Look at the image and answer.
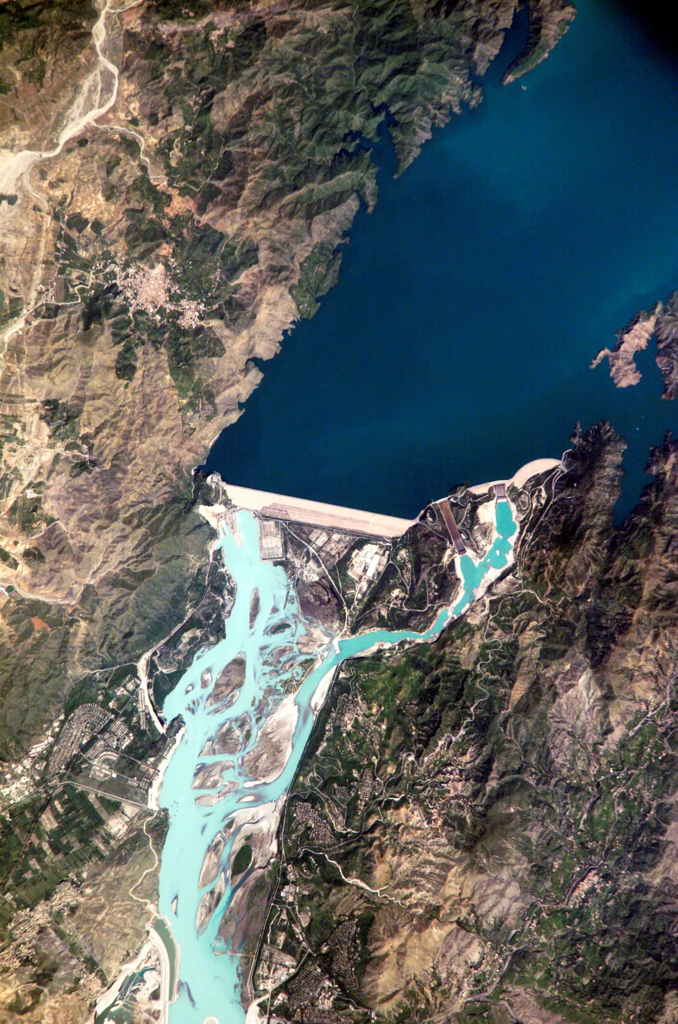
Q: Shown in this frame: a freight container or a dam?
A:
dam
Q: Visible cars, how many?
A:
none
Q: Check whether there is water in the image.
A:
Yes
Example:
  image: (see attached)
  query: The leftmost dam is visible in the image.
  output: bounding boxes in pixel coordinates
[224,481,417,539]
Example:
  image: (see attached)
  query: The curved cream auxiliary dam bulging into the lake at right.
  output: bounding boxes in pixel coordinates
[510,456,562,486]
